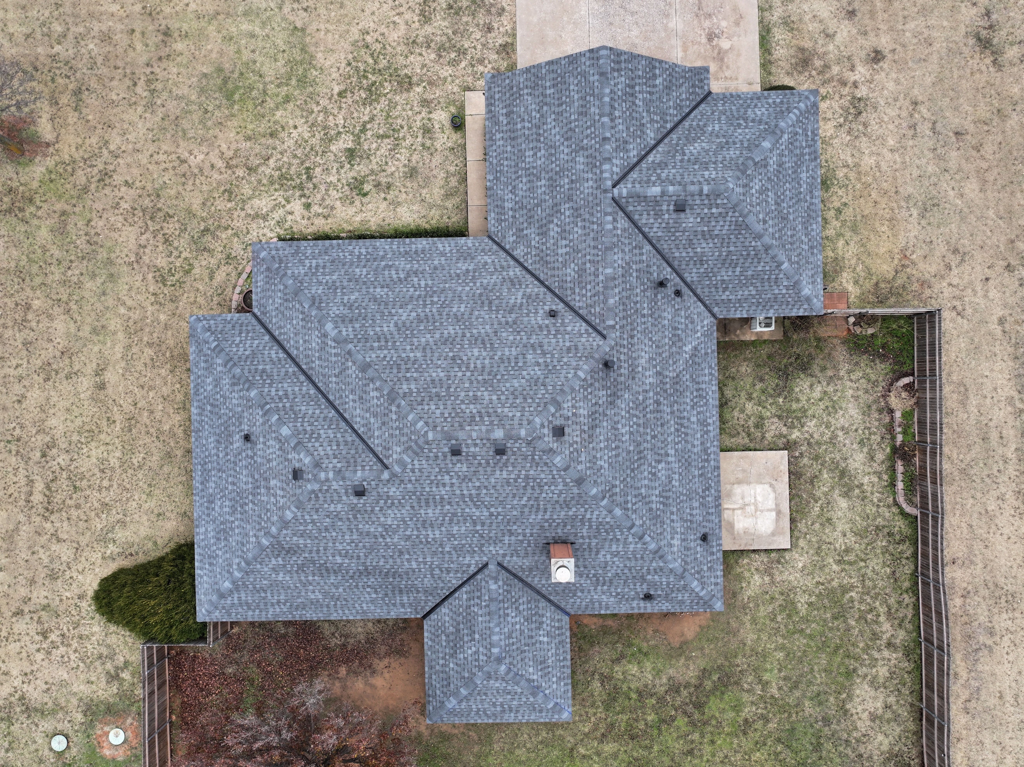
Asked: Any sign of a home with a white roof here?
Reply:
No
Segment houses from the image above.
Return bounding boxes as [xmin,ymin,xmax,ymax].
[189,44,823,723]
